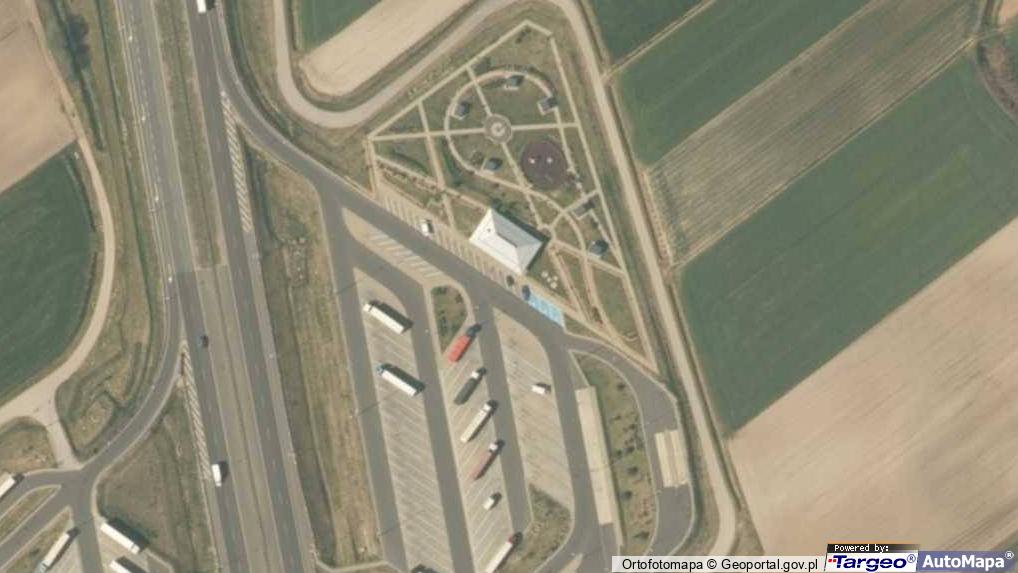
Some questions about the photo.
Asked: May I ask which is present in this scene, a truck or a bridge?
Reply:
truck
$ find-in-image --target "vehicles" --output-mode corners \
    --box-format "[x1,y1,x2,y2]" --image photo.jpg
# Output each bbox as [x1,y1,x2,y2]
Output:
[532,385,548,395]
[523,286,531,300]
[470,443,499,481]
[453,369,482,407]
[422,221,429,235]
[376,366,416,396]
[196,0,206,12]
[460,403,493,444]
[34,534,70,573]
[107,560,130,573]
[212,464,223,486]
[507,275,514,287]
[363,302,404,334]
[483,493,496,509]
[449,323,480,363]
[484,535,517,573]
[0,478,14,496]
[201,334,208,348]
[98,523,139,554]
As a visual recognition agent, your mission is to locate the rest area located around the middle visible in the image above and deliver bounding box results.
[227,39,696,573]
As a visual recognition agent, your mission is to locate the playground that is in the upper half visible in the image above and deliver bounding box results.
[522,144,567,189]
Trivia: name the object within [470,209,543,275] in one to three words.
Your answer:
building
